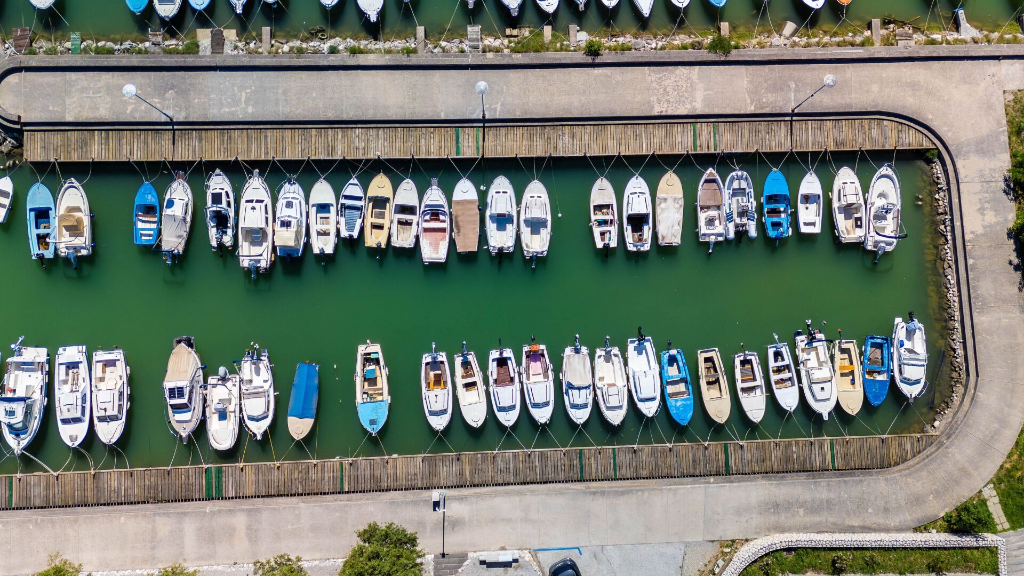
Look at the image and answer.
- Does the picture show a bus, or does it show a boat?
boat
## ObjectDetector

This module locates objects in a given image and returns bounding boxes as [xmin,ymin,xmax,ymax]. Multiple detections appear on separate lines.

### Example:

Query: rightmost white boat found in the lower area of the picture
[889,311,931,403]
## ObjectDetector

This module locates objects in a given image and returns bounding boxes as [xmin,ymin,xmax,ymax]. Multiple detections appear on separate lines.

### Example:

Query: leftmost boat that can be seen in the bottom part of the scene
[0,334,56,456]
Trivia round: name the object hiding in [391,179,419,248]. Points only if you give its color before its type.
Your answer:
white boat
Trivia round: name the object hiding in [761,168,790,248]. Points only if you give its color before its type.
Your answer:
blue boat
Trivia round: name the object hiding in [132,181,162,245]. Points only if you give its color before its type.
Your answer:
blue boat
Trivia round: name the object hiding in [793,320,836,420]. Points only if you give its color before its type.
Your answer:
white boat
